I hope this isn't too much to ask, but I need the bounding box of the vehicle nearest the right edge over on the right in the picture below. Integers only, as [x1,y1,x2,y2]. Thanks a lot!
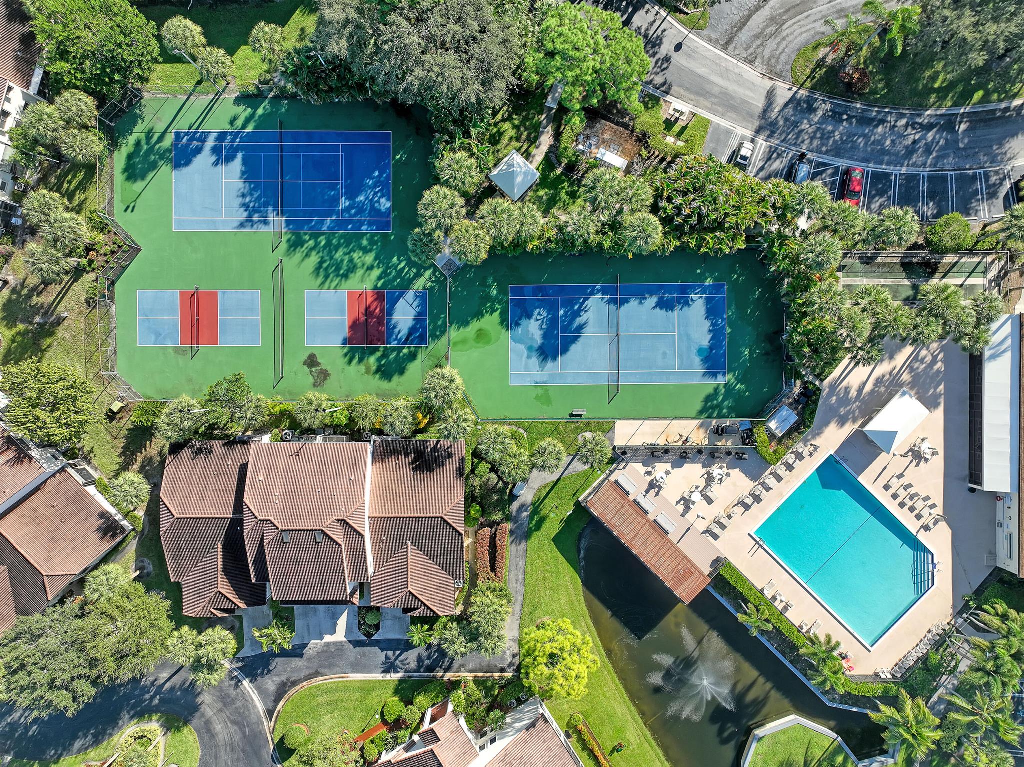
[842,164,866,207]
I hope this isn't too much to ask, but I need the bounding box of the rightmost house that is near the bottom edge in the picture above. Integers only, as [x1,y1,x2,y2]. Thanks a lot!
[458,697,584,767]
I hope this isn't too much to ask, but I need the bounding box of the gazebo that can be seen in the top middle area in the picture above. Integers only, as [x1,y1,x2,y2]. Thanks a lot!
[488,151,540,206]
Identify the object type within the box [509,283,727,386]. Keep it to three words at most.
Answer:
tennis court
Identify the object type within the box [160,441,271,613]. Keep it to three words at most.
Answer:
house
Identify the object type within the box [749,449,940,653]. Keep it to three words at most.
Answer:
swimming pool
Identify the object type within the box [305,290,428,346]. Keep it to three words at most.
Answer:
sports court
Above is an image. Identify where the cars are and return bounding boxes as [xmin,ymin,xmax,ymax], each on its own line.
[789,154,817,186]
[733,136,757,176]
[842,164,866,207]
